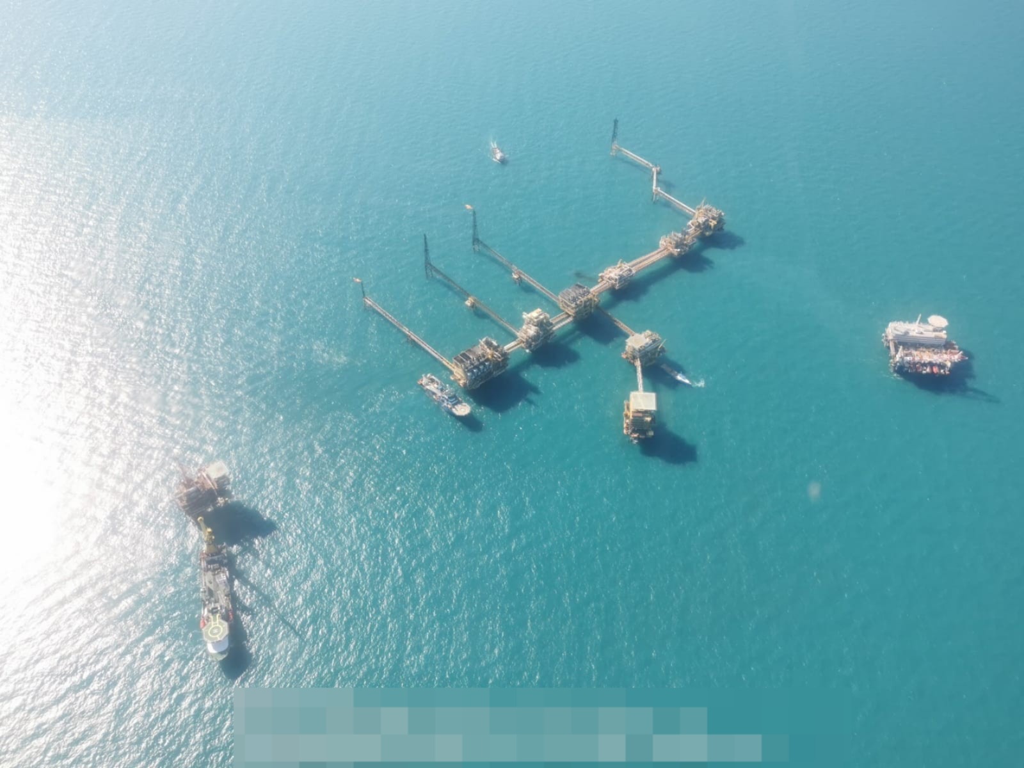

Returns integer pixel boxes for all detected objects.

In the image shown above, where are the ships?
[491,146,504,161]
[874,315,971,377]
[198,516,235,665]
[657,360,695,387]
[418,366,474,415]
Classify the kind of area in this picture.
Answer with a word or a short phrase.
port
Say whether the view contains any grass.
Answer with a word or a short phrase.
No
